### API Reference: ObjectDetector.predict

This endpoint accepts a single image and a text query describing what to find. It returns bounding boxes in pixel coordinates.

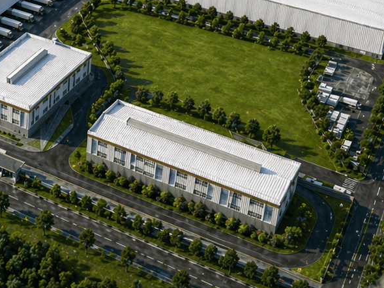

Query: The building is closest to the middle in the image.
[86,97,303,234]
